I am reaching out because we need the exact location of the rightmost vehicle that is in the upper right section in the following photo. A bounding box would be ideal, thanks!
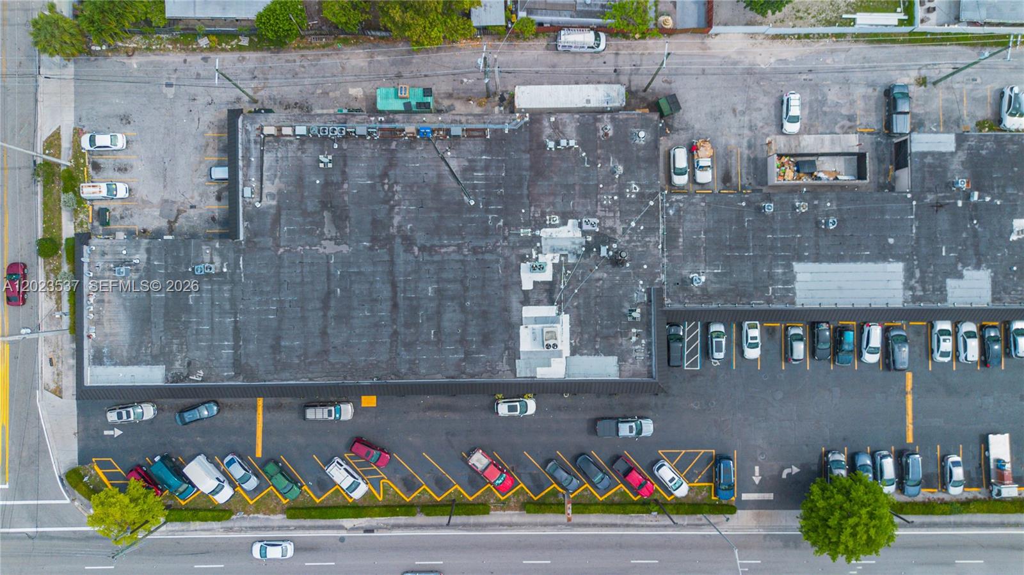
[998,85,1024,132]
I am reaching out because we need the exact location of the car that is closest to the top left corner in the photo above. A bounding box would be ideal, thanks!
[82,131,129,152]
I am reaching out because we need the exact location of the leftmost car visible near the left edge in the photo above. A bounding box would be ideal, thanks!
[3,263,30,305]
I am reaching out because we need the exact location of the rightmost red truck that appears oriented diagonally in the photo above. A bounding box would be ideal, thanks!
[608,452,656,500]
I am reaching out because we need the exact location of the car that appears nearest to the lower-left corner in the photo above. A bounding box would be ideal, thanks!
[124,461,168,502]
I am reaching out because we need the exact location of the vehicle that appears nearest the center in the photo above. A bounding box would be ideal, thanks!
[495,396,537,418]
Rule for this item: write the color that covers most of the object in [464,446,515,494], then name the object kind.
red truck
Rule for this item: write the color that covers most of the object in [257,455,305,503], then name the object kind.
green truck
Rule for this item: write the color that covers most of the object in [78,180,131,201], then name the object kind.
white vehicle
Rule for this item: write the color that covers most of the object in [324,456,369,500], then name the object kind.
white car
